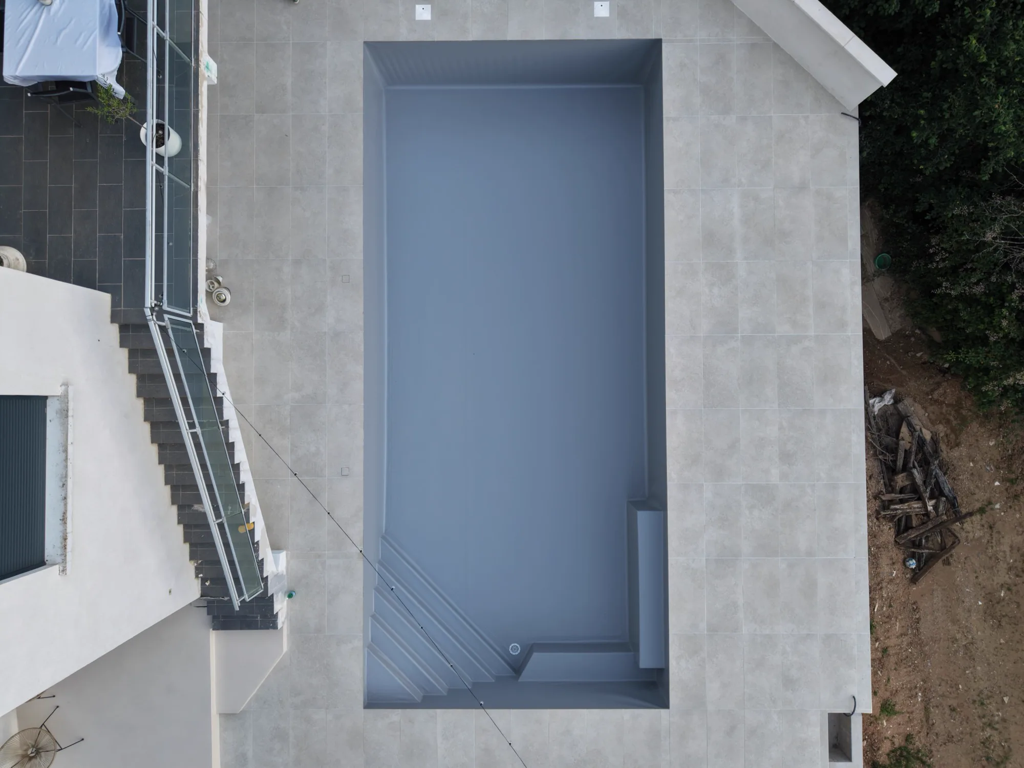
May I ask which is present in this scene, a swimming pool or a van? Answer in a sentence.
Looking from above, you can make out a swimming pool.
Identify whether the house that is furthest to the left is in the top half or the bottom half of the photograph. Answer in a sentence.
You can find the house that is furthest to the left in the bottom half.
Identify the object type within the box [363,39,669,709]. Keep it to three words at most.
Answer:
swimming pool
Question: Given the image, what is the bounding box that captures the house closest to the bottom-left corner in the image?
[0,269,200,768]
